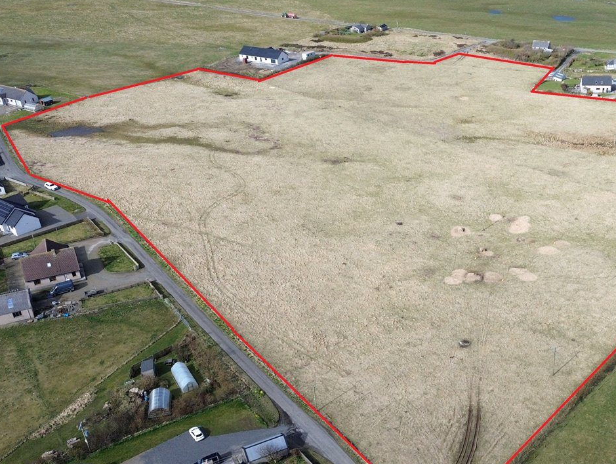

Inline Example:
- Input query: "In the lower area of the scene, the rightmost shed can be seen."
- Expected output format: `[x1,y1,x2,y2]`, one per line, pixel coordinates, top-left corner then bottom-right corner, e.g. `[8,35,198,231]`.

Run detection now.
[243,434,288,464]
